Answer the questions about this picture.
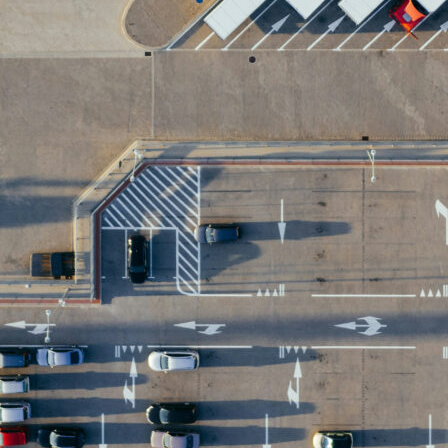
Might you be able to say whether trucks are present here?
Yes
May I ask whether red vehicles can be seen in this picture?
Yes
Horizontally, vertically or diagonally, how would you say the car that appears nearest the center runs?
horizontally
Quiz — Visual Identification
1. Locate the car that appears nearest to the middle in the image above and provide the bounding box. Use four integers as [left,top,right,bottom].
[194,222,240,245]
